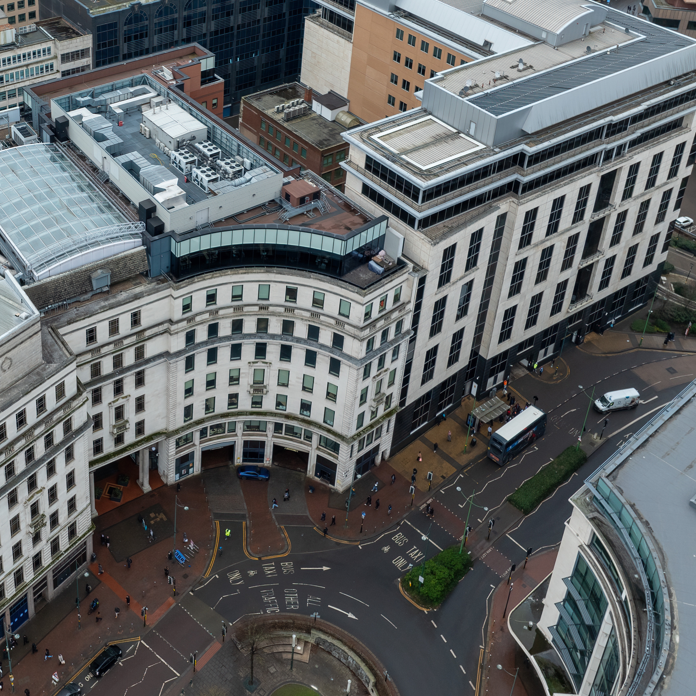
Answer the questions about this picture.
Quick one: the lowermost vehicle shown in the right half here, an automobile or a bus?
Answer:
bus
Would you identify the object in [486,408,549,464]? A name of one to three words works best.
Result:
bus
